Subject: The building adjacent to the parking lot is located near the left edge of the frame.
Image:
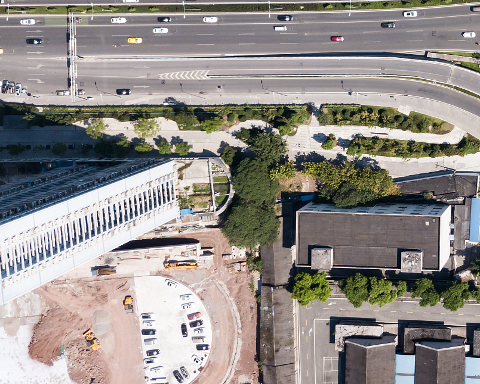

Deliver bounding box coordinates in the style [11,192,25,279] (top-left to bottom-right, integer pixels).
[0,147,190,299]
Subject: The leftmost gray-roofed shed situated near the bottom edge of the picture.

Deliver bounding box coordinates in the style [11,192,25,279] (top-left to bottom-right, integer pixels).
[260,244,299,384]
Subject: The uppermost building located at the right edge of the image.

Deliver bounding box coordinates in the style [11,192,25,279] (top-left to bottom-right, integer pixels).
[394,172,480,196]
